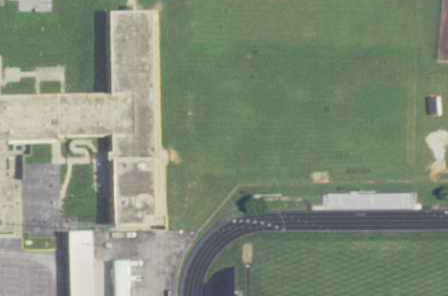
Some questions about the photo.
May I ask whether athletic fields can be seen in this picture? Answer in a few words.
Yes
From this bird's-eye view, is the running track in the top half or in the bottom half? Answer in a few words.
bottom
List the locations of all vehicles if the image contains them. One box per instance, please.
[112,232,135,238]
[130,260,143,266]
[130,276,142,280]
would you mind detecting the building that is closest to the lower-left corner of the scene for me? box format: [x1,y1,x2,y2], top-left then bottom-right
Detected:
[68,231,96,296]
